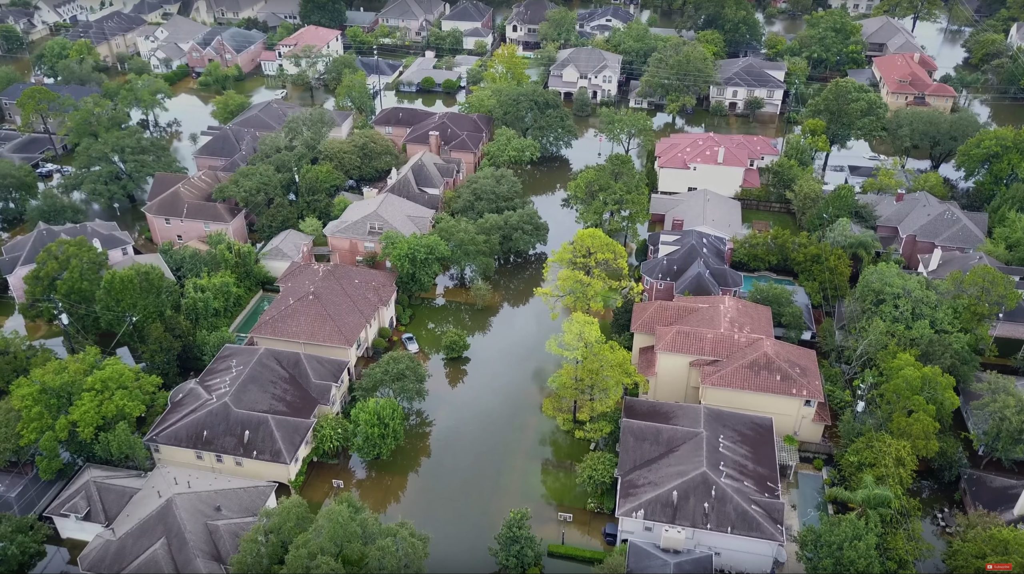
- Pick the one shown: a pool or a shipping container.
pool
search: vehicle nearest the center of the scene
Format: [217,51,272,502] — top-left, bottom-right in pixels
[398,332,423,356]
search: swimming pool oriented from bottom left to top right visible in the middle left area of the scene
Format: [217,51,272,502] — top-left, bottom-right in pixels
[231,292,276,343]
